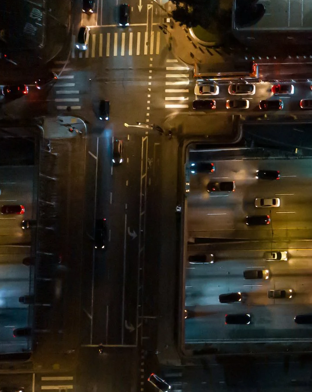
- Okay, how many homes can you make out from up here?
zero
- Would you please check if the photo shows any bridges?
Yes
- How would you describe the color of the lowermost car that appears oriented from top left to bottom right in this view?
black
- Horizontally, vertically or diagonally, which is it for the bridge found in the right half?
vertically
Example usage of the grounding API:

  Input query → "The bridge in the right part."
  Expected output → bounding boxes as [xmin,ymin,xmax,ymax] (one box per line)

[160,125,246,355]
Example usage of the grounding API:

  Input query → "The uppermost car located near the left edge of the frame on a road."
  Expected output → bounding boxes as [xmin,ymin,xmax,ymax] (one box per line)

[2,84,30,96]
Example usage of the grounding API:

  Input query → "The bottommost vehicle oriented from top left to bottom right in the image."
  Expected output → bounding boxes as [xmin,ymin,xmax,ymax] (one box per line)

[147,372,172,392]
